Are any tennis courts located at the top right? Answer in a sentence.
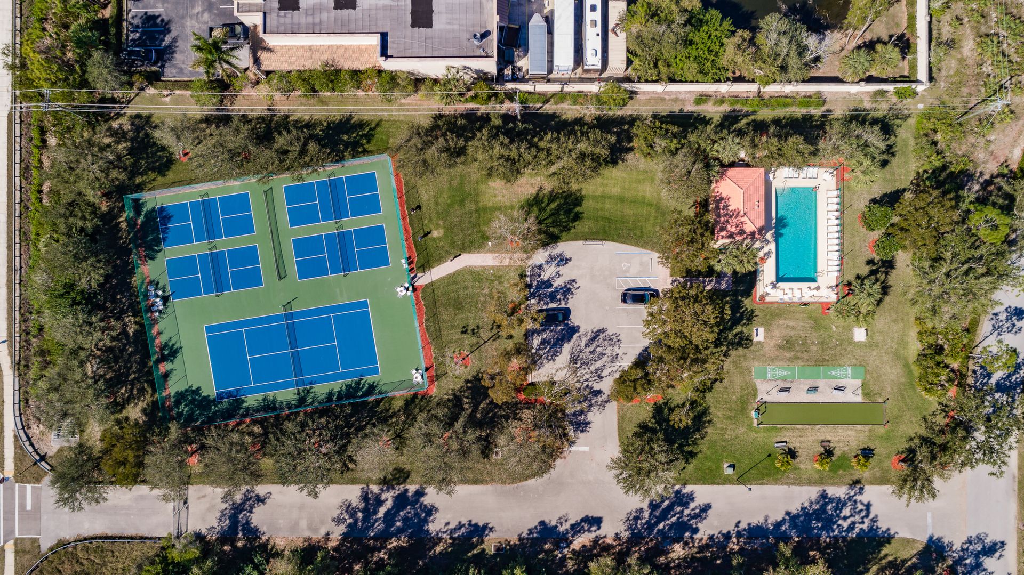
No, I see no tennis court at the top right.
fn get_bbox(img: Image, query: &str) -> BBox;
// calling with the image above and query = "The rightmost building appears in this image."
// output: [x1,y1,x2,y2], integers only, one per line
[712,167,767,240]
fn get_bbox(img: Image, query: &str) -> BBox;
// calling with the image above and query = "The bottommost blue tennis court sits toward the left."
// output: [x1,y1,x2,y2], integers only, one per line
[205,299,380,400]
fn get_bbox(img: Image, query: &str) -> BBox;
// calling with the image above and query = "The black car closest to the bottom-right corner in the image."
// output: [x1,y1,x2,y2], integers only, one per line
[622,288,656,304]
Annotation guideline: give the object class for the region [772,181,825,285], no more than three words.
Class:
swimming pool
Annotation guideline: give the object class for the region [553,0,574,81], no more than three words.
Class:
trailer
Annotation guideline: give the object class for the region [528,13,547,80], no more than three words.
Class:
trailer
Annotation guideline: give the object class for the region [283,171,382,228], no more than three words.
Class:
sports court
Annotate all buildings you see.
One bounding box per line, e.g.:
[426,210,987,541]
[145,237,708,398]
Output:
[234,0,508,77]
[712,167,767,240]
